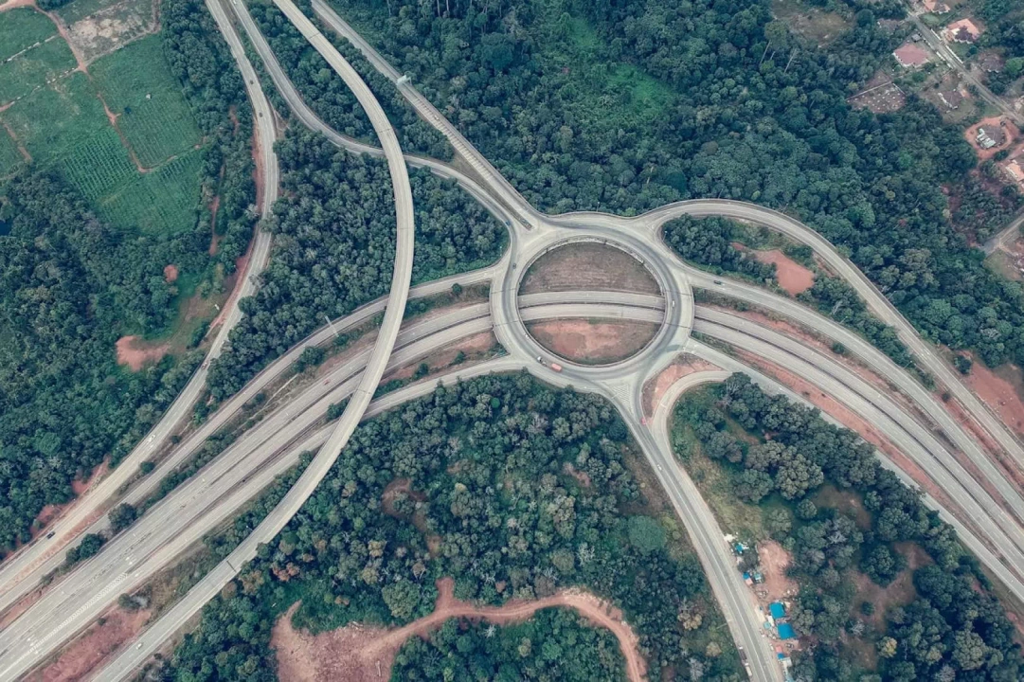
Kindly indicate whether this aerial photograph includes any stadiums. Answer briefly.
No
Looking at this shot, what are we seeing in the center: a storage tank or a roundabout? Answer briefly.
roundabout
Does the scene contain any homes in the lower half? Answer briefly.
No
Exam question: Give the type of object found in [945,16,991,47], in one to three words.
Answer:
house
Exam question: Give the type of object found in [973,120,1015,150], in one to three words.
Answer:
house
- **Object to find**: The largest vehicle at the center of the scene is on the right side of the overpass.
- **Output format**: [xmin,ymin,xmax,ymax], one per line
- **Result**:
[538,355,564,370]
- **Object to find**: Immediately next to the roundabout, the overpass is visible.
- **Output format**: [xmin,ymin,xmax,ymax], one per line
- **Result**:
[90,0,415,682]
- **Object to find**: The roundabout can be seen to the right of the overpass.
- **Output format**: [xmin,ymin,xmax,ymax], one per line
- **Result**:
[478,187,720,446]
